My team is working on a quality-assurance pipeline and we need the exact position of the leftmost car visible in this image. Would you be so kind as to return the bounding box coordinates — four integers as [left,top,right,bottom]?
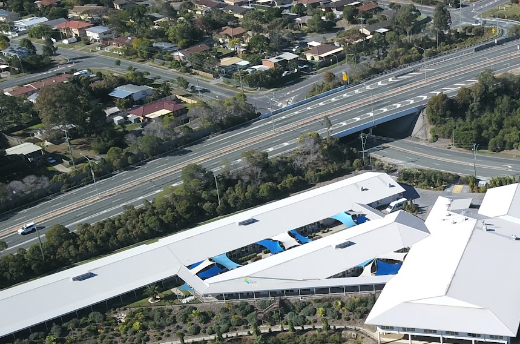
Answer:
[16,219,36,232]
